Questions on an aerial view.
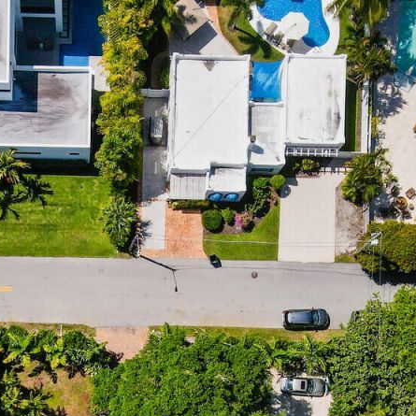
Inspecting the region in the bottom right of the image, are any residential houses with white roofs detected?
No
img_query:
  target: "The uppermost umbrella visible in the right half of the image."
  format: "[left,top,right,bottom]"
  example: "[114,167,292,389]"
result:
[280,14,308,42]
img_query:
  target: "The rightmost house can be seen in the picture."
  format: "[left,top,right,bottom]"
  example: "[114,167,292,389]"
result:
[166,54,346,206]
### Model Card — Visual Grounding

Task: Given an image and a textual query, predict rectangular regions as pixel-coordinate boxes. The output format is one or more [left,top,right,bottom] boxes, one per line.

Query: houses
[0,0,91,165]
[166,54,346,206]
